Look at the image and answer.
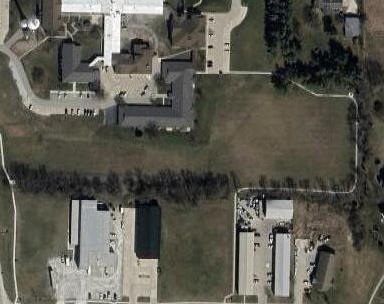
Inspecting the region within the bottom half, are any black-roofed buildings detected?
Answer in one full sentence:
Yes, the scene does show a black-roofed building within the bottom half.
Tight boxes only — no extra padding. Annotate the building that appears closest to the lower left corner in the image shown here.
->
[72,199,109,268]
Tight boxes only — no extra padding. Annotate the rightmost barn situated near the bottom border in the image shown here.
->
[310,250,337,292]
